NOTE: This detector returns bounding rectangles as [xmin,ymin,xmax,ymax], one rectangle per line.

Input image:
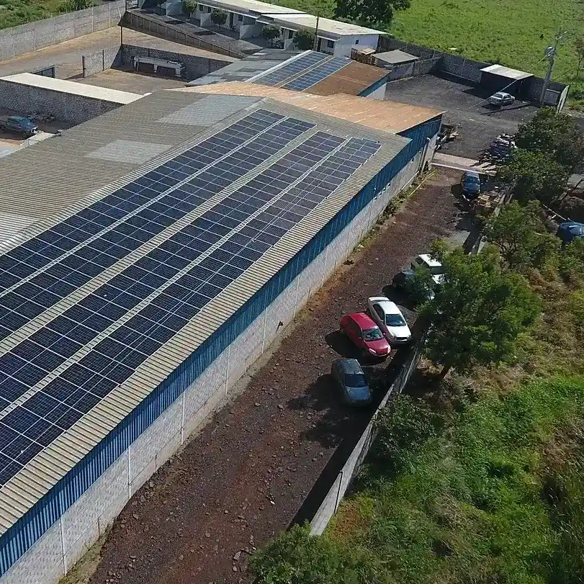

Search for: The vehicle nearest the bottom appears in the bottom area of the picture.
[331,358,378,414]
